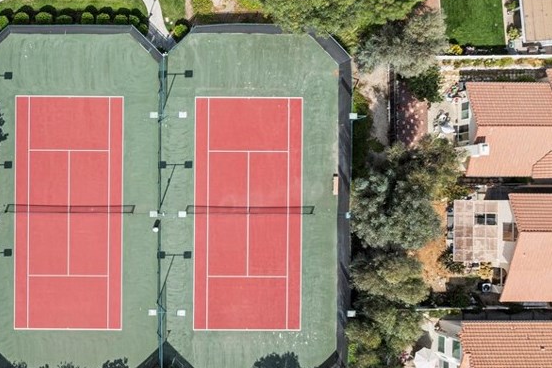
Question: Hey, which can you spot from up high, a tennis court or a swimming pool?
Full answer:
Looking from above, you can make out a tennis court.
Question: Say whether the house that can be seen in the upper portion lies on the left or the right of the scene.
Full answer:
The house that can be seen in the upper portion sits on the right side.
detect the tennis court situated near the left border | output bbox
[0,35,161,368]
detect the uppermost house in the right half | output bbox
[446,83,552,179]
